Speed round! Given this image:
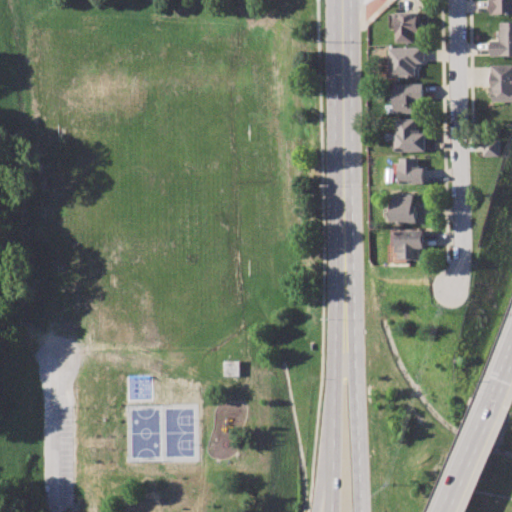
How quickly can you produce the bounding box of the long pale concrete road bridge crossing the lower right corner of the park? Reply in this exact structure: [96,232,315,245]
[425,298,512,512]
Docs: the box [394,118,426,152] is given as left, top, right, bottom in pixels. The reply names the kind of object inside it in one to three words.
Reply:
house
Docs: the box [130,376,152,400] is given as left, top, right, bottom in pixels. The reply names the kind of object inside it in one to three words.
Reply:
sports court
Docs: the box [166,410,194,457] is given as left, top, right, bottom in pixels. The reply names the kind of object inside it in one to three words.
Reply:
basketball court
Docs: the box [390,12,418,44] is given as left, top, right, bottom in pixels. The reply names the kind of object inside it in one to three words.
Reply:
house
